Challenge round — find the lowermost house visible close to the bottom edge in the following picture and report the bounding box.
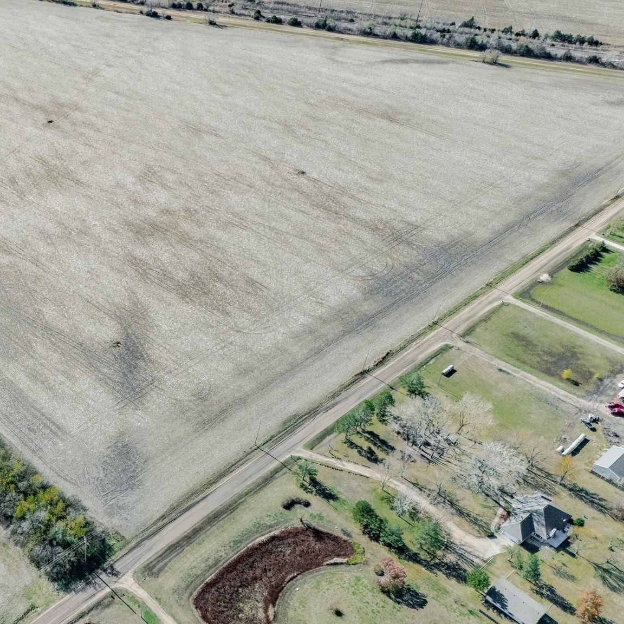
[485,577,548,624]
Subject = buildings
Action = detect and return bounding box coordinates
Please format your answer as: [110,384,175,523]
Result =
[496,483,577,548]
[590,446,624,487]
[485,577,548,624]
